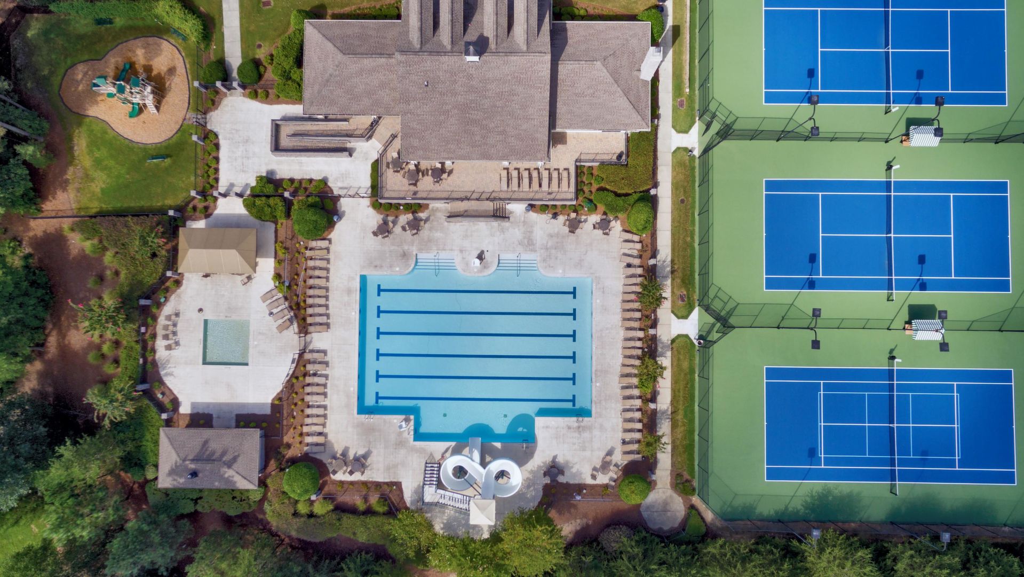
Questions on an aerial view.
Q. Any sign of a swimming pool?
Yes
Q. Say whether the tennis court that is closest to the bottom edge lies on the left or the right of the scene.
right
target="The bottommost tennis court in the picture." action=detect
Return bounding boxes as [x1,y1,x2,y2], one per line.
[699,327,1024,525]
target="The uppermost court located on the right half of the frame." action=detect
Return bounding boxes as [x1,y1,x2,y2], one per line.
[699,0,1024,157]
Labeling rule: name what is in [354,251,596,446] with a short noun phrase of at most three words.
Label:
swimming pool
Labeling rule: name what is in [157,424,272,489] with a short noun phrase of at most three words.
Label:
building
